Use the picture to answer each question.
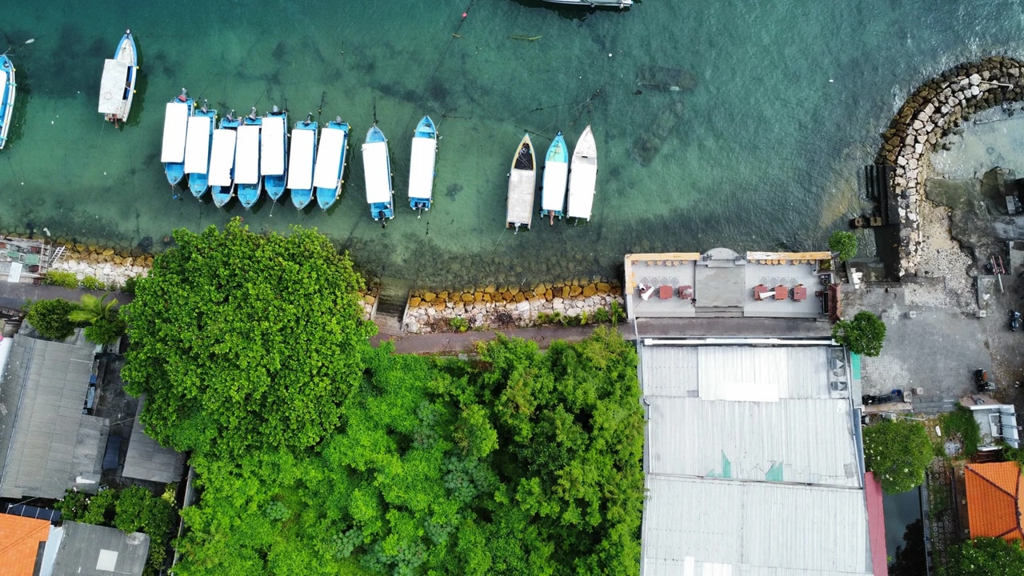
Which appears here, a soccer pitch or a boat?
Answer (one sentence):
It is a boat that can be seen here.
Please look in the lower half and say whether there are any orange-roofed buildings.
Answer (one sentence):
Yes, the scene does show an orange-roofed building in the lower half.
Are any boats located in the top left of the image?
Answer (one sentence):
Yes, a boat shows up in the top left of the image.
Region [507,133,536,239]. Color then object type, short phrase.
white boat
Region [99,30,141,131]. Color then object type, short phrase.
white boat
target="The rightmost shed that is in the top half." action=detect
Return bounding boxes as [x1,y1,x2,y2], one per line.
[980,180,1024,216]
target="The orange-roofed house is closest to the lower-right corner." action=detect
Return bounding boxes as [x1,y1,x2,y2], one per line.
[952,461,1024,552]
